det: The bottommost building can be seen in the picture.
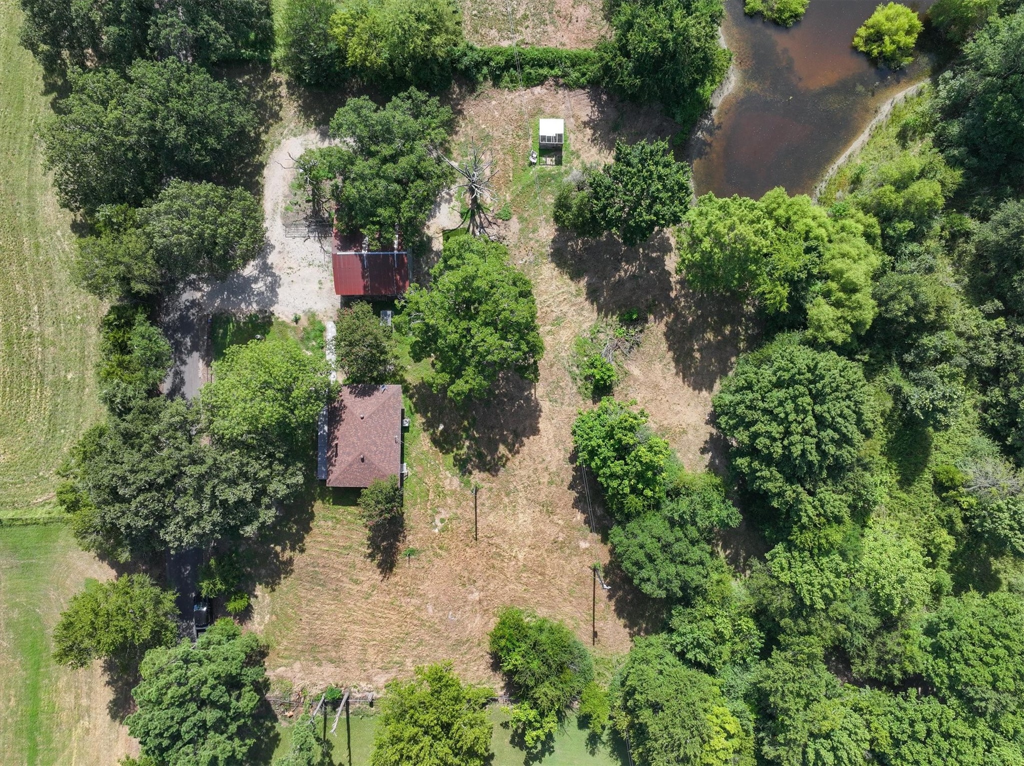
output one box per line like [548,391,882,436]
[318,384,411,488]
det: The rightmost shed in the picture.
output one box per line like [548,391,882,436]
[539,118,563,149]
